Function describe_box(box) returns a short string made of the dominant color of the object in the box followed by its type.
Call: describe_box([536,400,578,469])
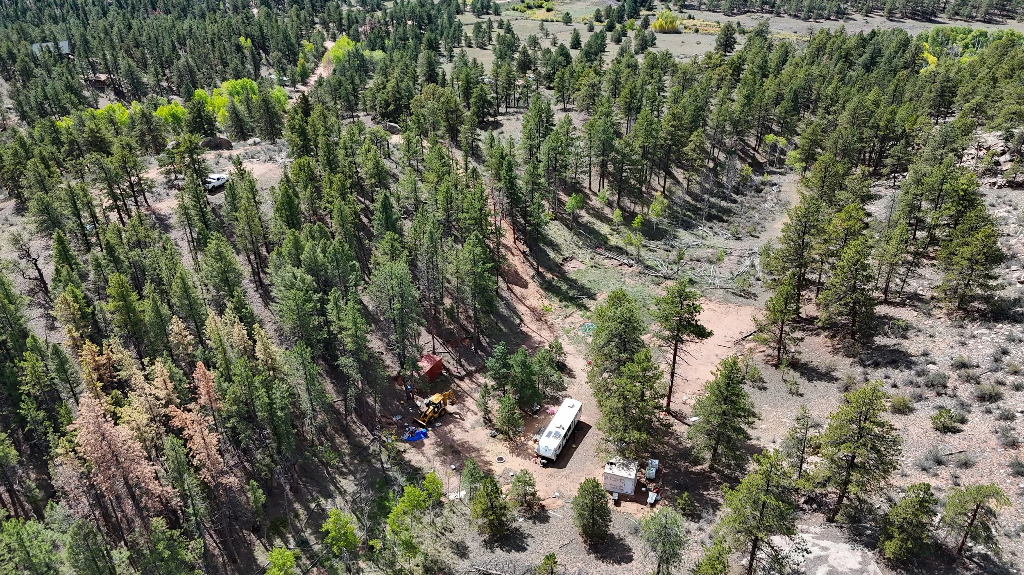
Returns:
white trailer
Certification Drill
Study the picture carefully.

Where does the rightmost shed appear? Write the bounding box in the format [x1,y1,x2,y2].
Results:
[603,456,638,493]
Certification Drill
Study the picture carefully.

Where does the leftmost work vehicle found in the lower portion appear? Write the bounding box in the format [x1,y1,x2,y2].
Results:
[412,386,456,427]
